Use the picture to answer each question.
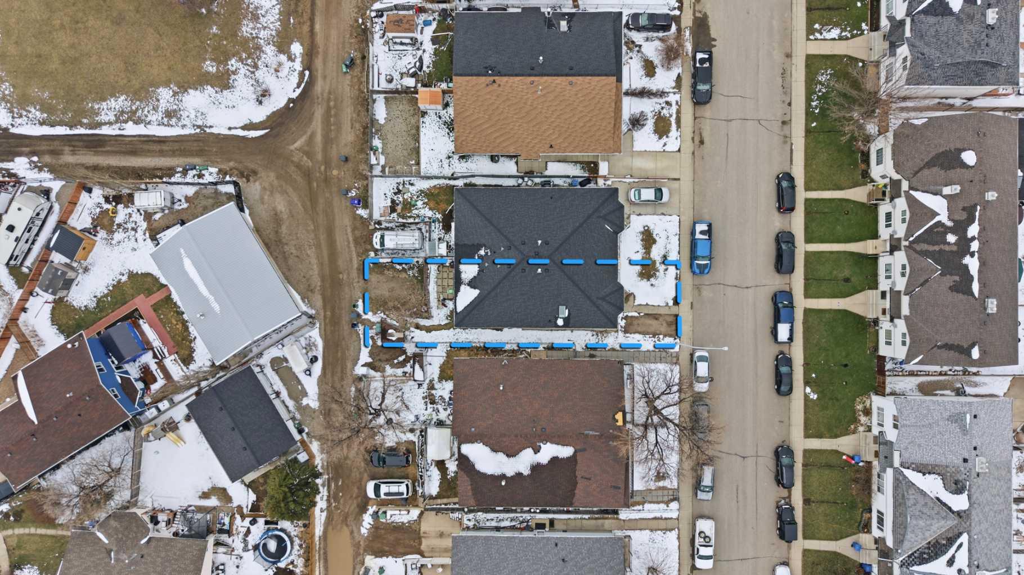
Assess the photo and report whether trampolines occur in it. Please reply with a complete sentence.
Yes, a trampoline appears in the view.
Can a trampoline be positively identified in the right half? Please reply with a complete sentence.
No, there's no trampoline to be seen in the right half.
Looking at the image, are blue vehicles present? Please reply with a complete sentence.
Yes, there's a blue vehicle here.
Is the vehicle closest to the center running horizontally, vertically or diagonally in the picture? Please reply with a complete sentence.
From this overhead view, the vehicle closest to the center appears to run horizontally.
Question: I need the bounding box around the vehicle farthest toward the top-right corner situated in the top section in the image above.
[774,172,797,213]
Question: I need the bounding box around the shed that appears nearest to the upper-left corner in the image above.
[46,224,98,262]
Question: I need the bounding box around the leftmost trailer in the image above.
[0,188,53,265]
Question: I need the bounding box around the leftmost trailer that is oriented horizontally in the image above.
[134,190,189,213]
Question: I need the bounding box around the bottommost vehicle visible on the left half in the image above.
[367,478,414,501]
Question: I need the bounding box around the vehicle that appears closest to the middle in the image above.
[374,229,424,251]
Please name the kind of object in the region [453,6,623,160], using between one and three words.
house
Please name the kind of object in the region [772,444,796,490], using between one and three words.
car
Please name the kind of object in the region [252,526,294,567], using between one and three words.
trampoline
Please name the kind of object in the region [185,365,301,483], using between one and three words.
building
